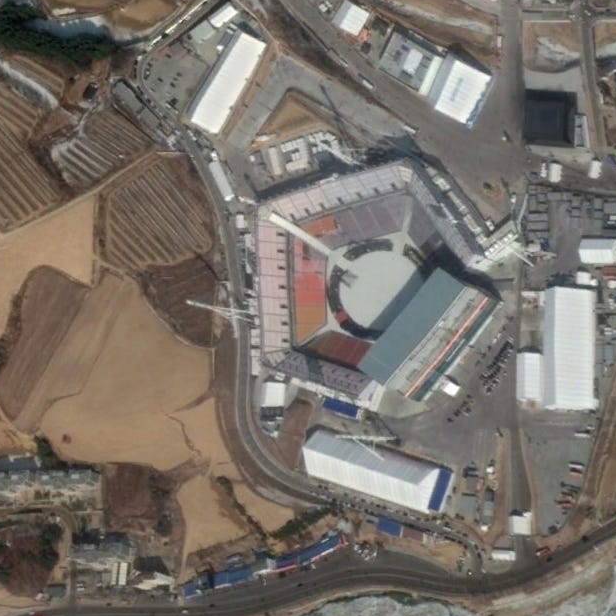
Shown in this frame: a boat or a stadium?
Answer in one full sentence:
Looking from above, you can make out a stadium.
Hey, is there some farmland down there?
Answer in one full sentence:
Yes, the picture does contain farmland.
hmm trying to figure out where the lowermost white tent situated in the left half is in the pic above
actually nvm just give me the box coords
[187,28,270,134]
